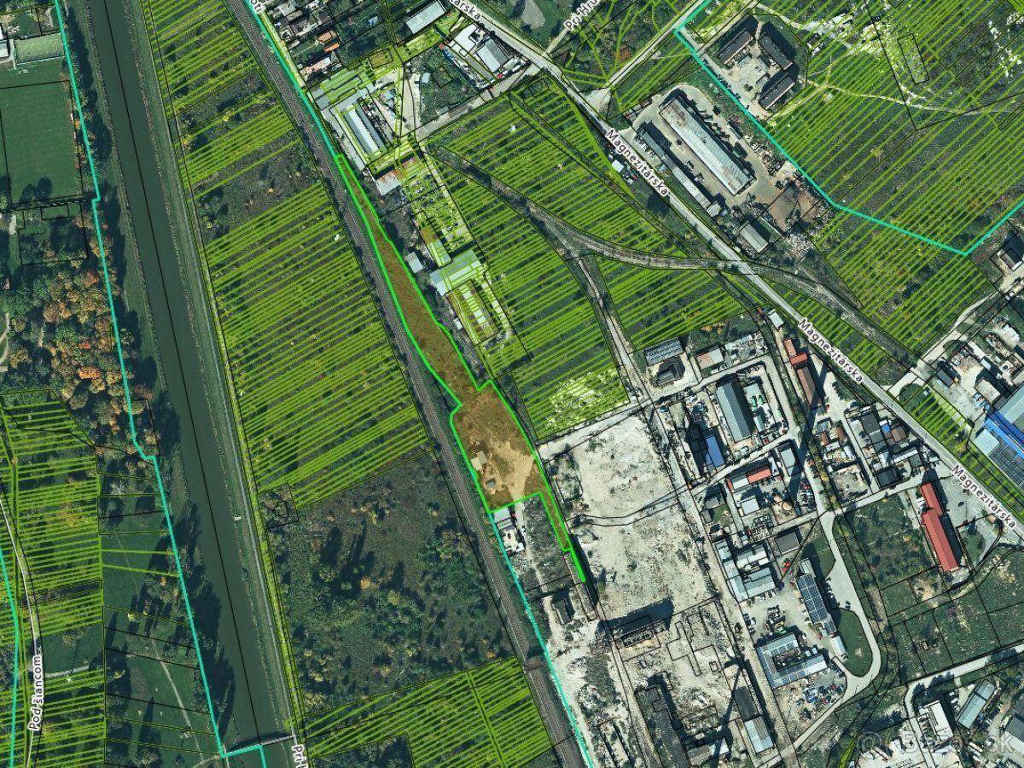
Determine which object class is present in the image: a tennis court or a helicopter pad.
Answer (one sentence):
Looking from above, you can make out a tennis court.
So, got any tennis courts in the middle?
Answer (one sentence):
No, no tennis court appears in the middle.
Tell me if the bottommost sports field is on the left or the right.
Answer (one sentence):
The bottommost sports field is on the left side of the image.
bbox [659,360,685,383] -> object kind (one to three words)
house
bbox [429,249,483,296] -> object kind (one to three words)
building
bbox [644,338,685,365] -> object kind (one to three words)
building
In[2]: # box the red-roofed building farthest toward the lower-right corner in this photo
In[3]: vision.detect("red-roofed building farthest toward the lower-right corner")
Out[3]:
[923,512,960,573]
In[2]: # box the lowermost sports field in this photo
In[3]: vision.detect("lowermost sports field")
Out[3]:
[0,81,82,207]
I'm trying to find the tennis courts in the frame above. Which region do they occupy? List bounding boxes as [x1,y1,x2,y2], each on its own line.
[16,33,64,64]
